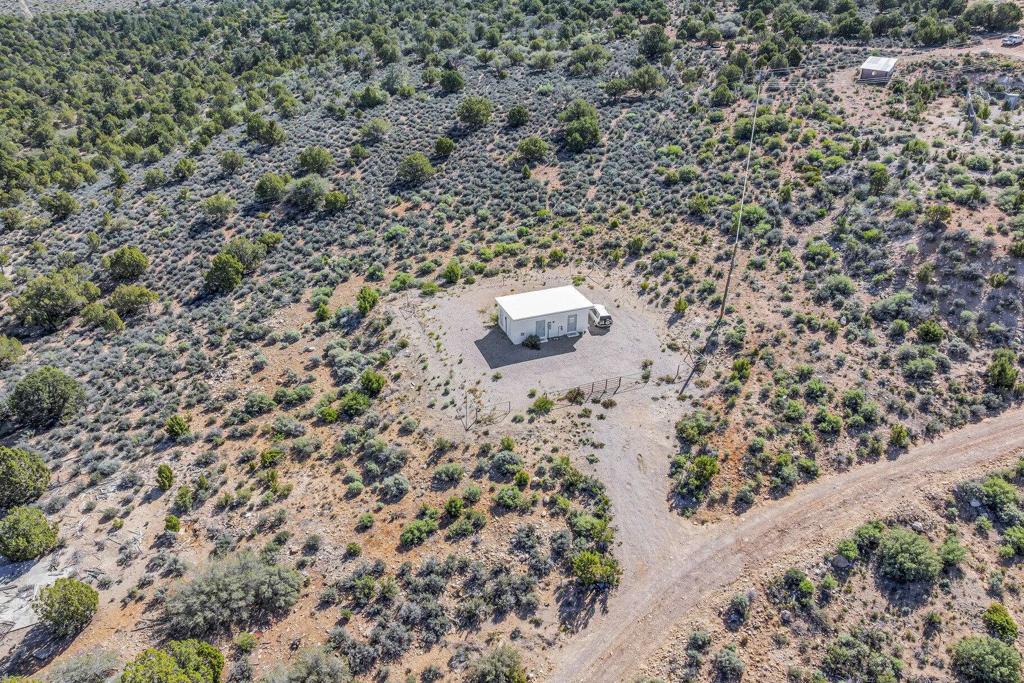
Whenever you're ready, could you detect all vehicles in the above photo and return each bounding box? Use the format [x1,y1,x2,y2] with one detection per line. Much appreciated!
[592,304,615,324]
[1003,37,1024,45]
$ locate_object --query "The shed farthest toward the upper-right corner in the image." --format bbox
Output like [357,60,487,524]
[859,55,910,80]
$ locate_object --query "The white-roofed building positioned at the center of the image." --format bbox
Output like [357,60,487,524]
[495,286,594,345]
